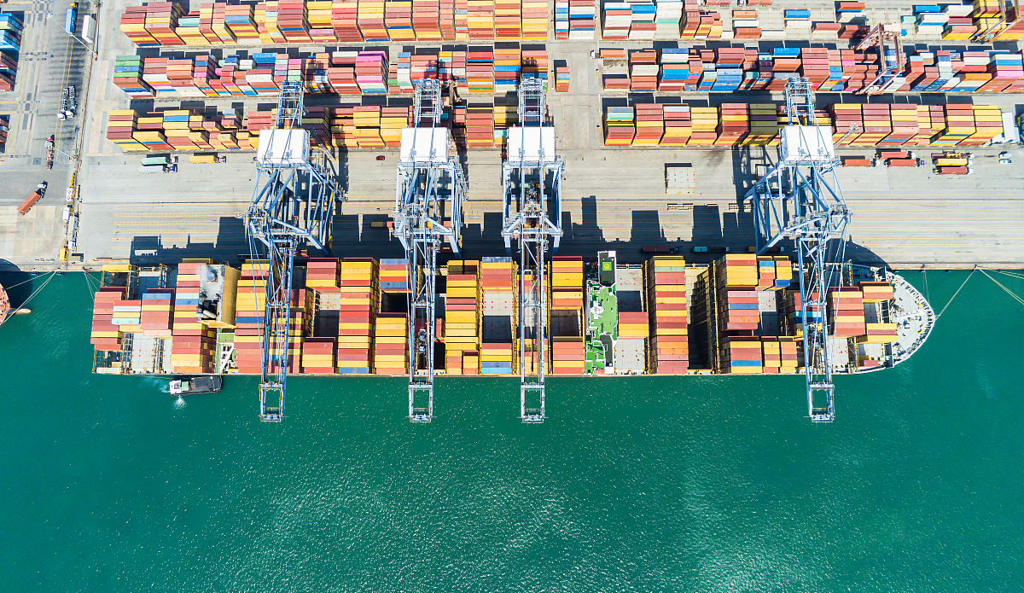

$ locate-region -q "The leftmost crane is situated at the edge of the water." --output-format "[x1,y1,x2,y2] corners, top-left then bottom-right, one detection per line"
[242,76,353,428]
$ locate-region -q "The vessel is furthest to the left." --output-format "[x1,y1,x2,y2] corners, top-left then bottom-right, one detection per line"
[0,283,27,331]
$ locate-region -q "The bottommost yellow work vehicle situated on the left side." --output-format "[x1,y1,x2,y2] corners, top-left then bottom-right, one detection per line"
[57,247,71,260]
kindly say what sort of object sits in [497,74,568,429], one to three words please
container crane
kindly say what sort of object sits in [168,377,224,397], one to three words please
boat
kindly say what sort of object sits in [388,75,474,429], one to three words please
container crane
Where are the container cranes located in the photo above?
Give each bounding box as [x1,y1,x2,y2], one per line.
[242,76,353,428]
[851,18,905,95]
[440,77,466,151]
[730,72,854,430]
[497,74,568,429]
[388,75,474,429]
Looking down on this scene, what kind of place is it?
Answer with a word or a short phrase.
port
